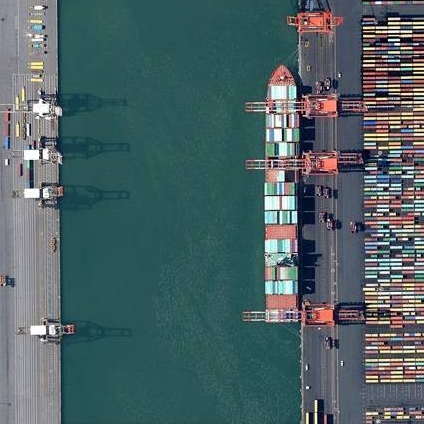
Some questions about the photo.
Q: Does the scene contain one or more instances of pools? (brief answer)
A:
No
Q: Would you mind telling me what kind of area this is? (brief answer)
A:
port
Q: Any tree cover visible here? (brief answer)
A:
No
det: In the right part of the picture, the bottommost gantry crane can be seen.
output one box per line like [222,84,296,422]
[243,302,364,330]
